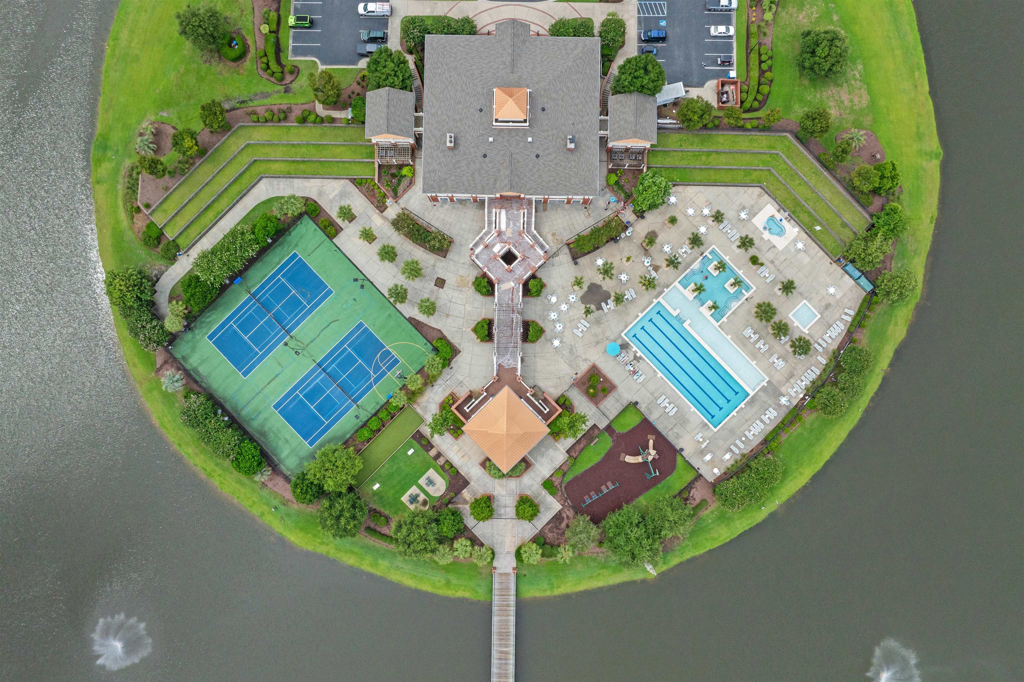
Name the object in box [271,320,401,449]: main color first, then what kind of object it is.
blue tennis court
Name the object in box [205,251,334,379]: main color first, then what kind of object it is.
blue tennis court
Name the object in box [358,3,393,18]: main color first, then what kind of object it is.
white vehicle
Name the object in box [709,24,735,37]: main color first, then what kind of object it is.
white vehicle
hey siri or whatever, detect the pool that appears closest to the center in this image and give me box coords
[622,245,769,432]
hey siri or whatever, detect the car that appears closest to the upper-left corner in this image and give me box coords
[288,14,314,29]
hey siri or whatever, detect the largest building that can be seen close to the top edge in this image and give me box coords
[422,20,601,205]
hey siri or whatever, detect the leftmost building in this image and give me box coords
[365,88,417,148]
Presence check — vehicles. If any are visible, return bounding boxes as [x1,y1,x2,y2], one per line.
[642,44,657,54]
[358,3,393,18]
[360,29,388,44]
[705,0,738,13]
[640,28,667,42]
[288,14,314,29]
[718,54,734,65]
[357,43,388,56]
[709,24,735,37]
